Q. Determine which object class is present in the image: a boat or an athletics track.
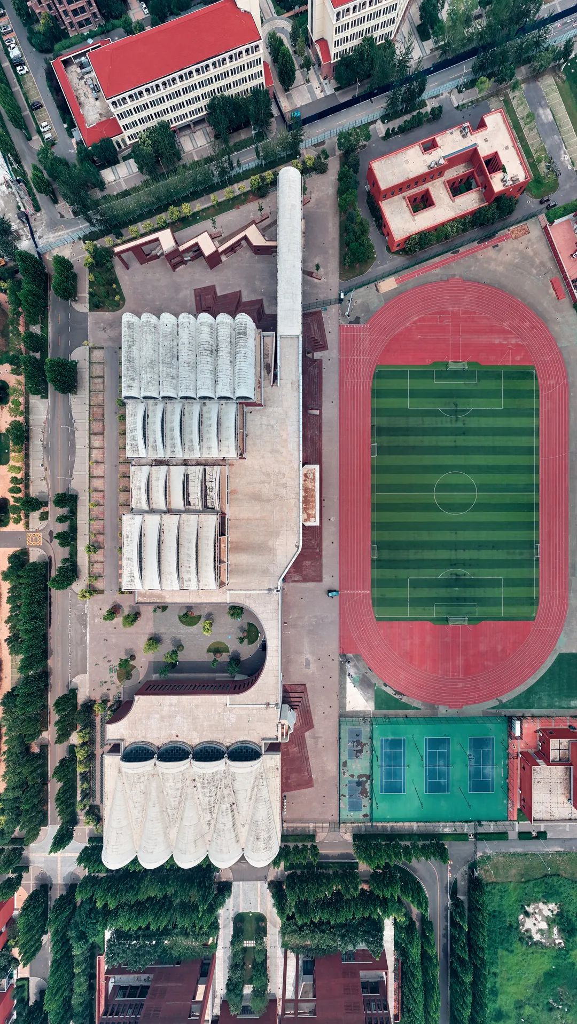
athletics track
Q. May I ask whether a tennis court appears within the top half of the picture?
No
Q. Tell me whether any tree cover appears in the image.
Yes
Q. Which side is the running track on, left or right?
right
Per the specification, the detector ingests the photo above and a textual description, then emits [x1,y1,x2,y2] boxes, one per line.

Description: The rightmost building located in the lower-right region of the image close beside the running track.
[517,723,577,825]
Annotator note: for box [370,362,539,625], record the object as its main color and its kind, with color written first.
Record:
green sports field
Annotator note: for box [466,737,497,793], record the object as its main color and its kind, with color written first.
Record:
blue tennis court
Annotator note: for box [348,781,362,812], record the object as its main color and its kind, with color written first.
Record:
blue sports court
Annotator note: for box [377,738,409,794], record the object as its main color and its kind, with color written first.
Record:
blue tennis court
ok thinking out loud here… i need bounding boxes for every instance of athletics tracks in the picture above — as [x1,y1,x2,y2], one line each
[340,278,568,709]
